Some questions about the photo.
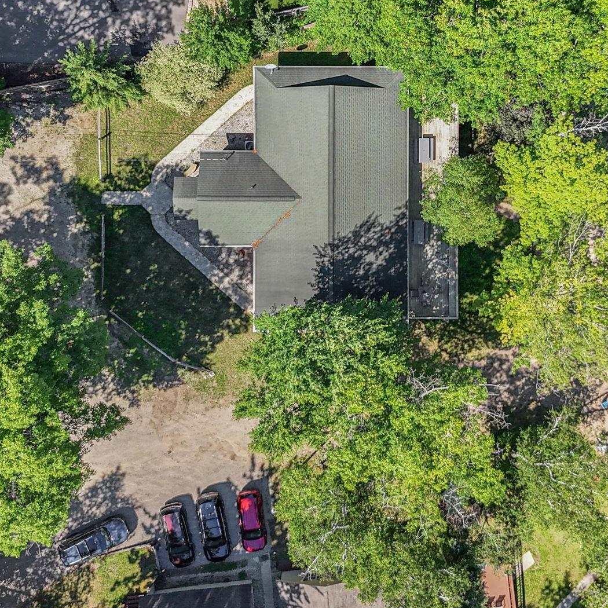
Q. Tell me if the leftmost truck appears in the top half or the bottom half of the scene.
bottom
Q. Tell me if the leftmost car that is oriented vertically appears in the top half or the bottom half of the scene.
bottom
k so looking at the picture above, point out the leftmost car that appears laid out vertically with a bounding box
[160,497,198,570]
